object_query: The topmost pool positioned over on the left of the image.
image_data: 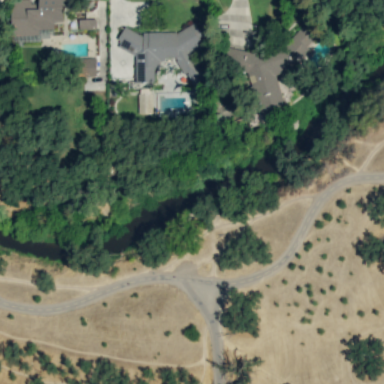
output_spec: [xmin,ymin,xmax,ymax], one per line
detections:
[61,42,89,57]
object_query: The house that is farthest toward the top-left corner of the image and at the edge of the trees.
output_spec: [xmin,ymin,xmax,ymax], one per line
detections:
[10,0,72,36]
